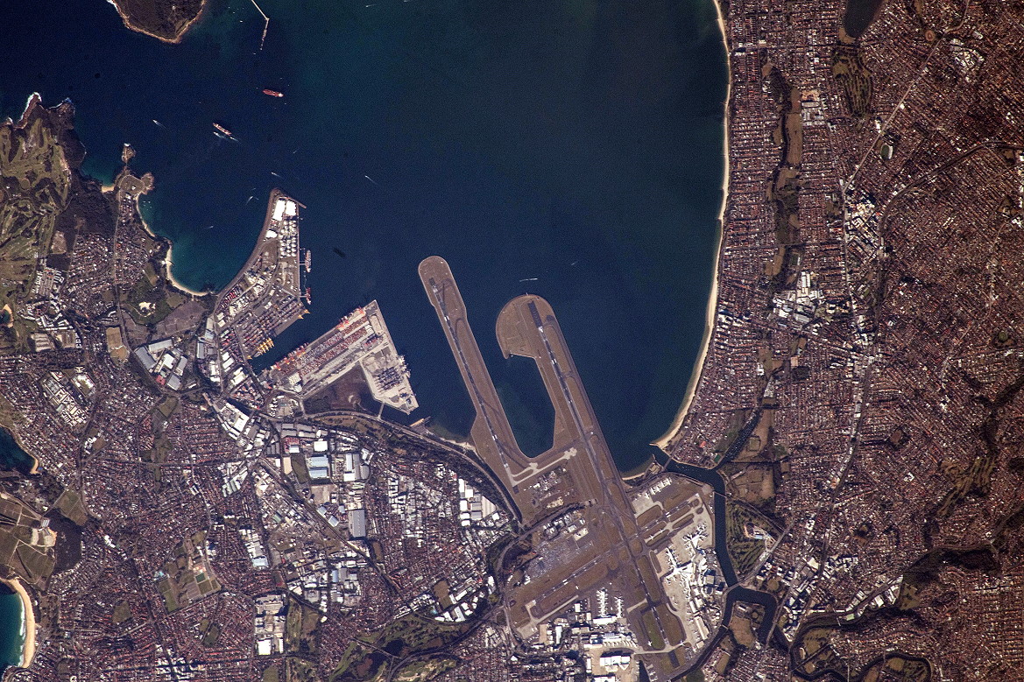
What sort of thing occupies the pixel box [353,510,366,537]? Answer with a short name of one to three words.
building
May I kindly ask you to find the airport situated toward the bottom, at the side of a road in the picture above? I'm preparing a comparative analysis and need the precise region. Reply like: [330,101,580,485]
[418,256,726,682]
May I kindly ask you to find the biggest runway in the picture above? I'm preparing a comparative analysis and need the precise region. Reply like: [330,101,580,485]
[528,301,681,669]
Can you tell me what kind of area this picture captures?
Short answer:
port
